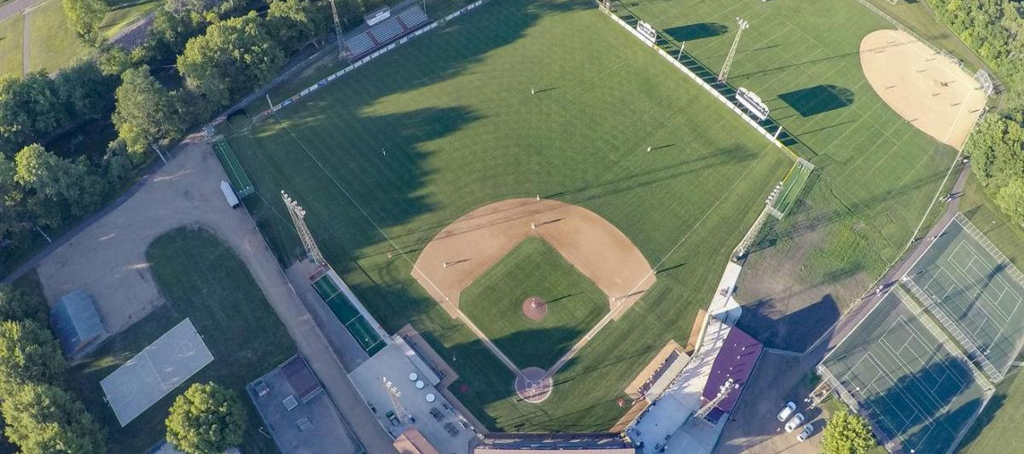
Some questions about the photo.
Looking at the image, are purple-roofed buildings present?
Yes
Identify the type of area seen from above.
sports ground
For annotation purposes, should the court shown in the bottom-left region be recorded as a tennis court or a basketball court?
basketball court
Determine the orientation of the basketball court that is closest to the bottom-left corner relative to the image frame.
diagonally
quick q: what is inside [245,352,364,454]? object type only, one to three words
building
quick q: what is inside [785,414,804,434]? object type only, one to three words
car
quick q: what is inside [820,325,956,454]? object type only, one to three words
tennis court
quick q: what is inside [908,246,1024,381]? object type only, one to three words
tennis court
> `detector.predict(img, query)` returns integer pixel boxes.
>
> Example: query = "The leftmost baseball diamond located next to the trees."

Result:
[226,0,798,434]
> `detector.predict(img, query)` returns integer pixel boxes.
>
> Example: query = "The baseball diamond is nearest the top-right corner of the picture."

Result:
[860,29,985,150]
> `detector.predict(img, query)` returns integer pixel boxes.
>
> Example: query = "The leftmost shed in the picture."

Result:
[53,290,114,360]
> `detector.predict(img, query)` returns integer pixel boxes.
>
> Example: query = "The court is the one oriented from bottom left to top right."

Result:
[101,318,214,427]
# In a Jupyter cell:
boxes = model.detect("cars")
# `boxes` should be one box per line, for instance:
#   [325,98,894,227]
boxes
[777,403,796,423]
[785,414,804,434]
[797,425,814,444]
